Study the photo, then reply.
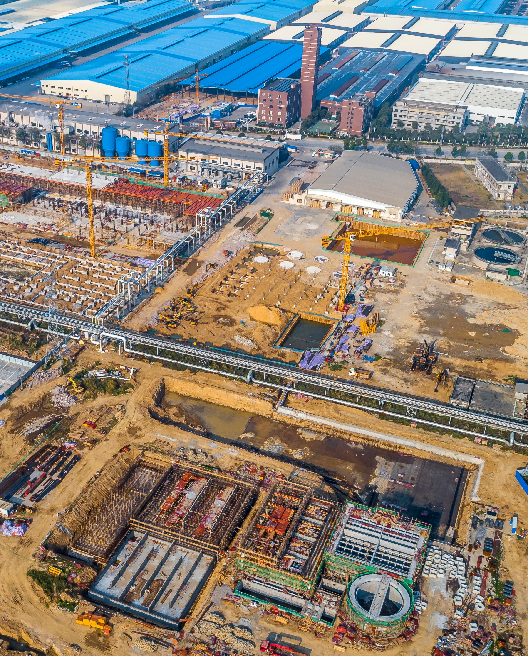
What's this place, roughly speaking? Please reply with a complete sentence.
This looks like an industrial area.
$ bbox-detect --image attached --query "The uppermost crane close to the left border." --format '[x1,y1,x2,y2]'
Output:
[0,93,81,168]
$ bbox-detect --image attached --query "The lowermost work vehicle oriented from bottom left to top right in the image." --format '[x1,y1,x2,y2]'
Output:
[433,370,447,391]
